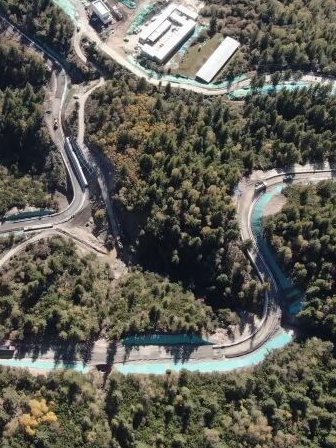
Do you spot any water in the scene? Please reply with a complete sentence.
No, there's no water in this view.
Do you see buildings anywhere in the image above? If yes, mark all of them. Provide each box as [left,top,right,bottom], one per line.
[195,36,240,85]
[139,2,199,63]
[62,138,90,188]
[92,0,112,23]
